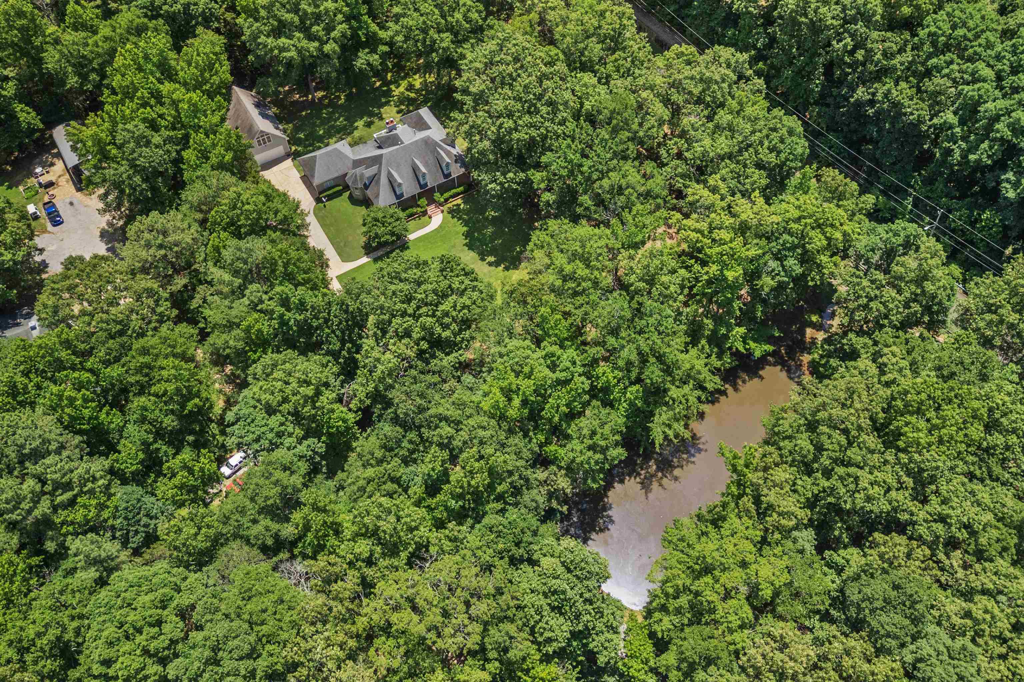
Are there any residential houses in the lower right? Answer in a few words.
No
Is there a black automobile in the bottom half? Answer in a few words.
No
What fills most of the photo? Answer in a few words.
trees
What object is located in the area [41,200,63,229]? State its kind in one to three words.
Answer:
truck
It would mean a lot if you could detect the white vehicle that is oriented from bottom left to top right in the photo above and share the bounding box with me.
[219,450,249,479]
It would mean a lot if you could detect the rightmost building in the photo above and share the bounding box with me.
[296,106,471,220]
